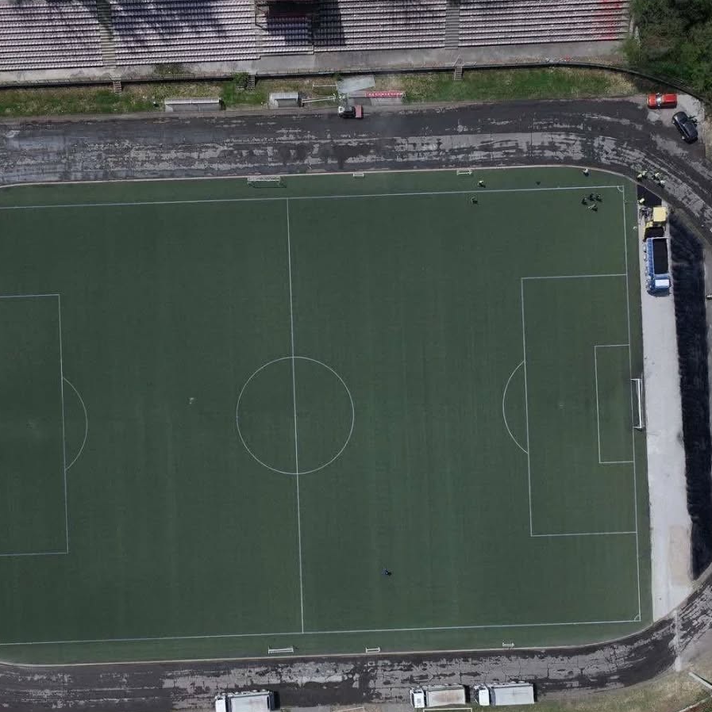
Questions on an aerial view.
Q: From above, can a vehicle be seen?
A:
Yes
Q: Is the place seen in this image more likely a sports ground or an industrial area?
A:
sports ground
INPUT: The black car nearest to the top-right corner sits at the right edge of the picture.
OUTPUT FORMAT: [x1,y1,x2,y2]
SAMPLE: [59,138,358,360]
[674,114,696,144]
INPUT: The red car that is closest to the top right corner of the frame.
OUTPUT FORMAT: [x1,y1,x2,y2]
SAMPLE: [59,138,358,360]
[644,94,676,109]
